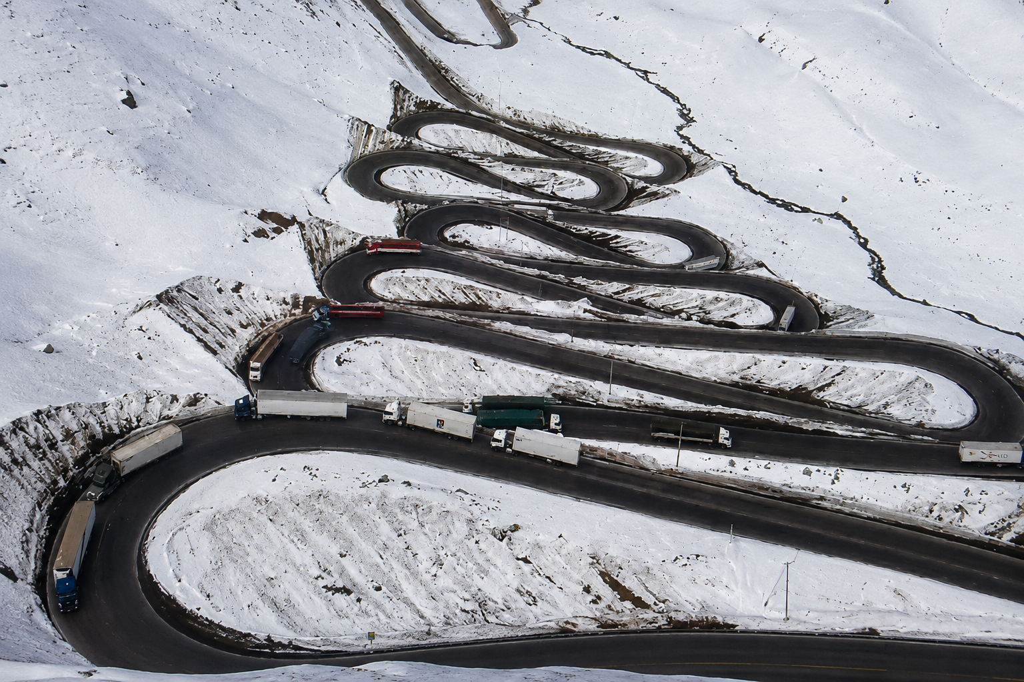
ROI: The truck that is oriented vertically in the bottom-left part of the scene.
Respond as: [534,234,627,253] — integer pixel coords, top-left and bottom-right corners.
[53,499,99,606]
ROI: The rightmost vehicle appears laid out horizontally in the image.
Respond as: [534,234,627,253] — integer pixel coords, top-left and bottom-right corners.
[959,438,1024,469]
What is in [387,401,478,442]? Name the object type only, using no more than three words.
truck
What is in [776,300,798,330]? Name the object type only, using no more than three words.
truck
